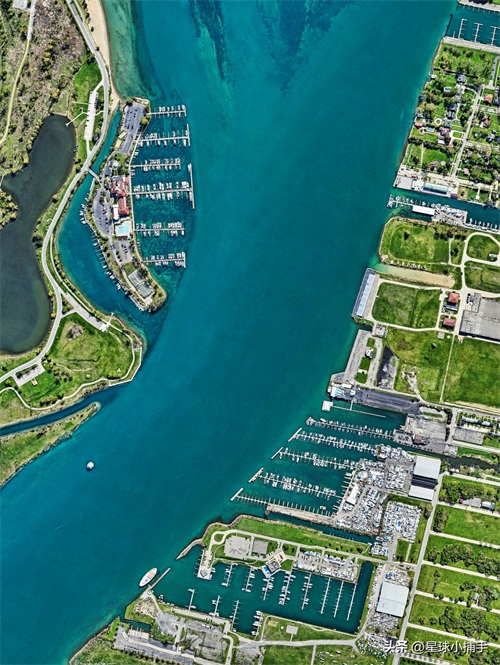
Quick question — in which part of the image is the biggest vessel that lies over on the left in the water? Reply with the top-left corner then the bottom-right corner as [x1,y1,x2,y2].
[141,569,156,585]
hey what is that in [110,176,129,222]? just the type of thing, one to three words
building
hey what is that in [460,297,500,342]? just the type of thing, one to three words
building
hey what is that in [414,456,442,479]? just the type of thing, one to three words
shed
